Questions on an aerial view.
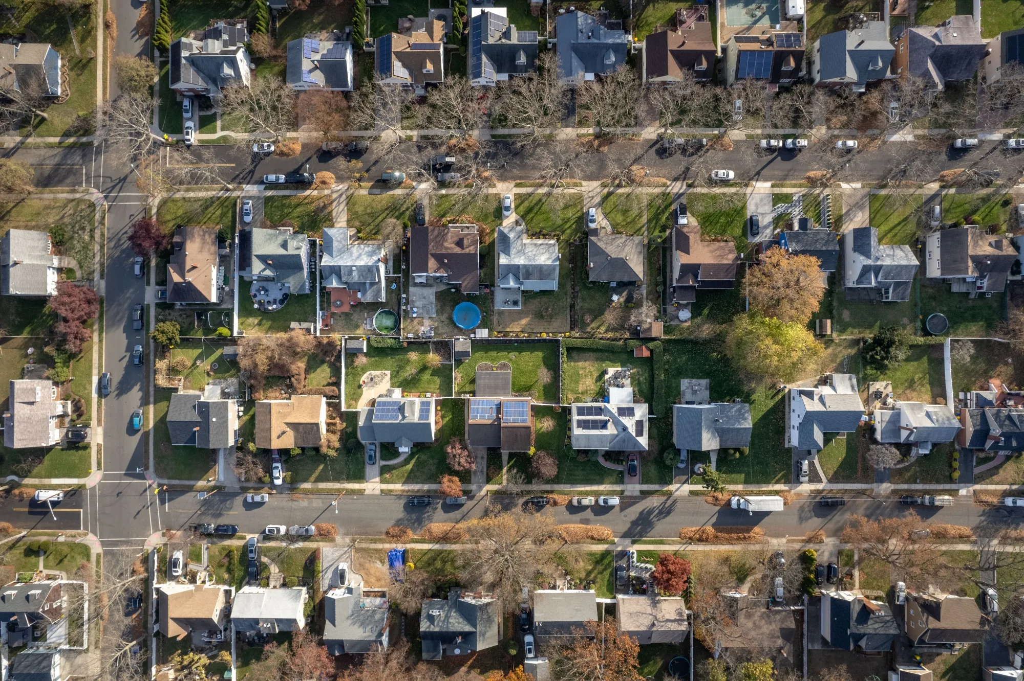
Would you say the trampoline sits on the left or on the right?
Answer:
right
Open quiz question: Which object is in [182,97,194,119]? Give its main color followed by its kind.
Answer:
blue vehicle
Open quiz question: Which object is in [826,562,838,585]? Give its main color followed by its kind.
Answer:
black vehicle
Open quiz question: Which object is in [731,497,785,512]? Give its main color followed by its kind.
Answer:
white vehicle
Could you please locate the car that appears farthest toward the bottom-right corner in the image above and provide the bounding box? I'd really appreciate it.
[984,588,997,611]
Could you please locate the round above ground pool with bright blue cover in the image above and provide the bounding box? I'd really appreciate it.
[453,301,481,329]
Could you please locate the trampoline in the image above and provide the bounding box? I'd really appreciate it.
[927,312,949,334]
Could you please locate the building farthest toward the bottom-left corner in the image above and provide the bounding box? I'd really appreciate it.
[7,650,60,681]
